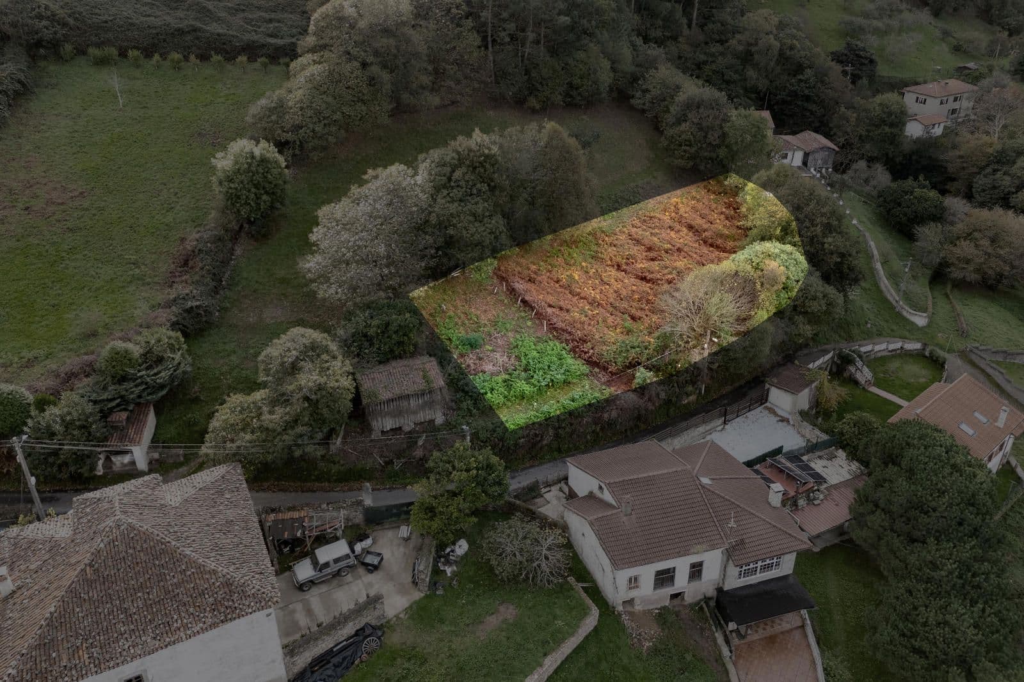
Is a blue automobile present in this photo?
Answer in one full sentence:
No, no blue automobile is visible in the view.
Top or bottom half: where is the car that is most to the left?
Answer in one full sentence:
The bottom half of the photo is where the car that is most to the left is.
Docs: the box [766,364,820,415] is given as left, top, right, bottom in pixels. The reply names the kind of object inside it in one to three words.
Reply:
building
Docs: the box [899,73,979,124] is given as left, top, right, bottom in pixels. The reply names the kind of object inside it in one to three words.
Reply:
house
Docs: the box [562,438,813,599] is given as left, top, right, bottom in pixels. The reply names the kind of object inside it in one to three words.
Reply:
house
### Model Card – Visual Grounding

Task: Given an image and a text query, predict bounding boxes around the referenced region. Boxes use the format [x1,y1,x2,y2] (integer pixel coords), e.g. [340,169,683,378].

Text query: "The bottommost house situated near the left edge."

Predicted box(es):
[0,462,286,682]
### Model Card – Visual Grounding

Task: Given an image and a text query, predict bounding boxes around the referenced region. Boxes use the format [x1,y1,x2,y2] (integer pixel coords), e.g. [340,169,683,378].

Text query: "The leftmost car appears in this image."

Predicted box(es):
[281,533,360,591]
